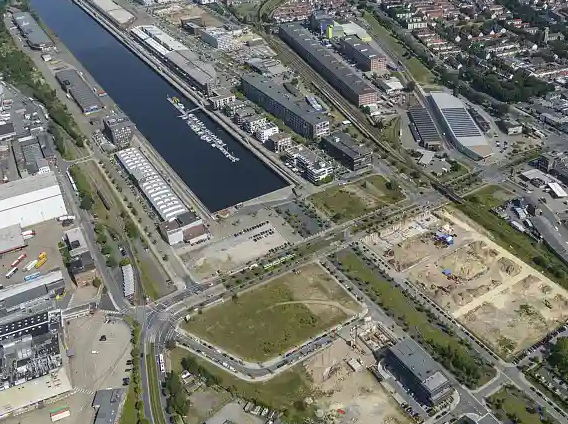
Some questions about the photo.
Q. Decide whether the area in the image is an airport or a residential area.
residential area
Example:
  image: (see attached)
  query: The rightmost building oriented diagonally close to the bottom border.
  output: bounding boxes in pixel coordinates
[389,338,451,403]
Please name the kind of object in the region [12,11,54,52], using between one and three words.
building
